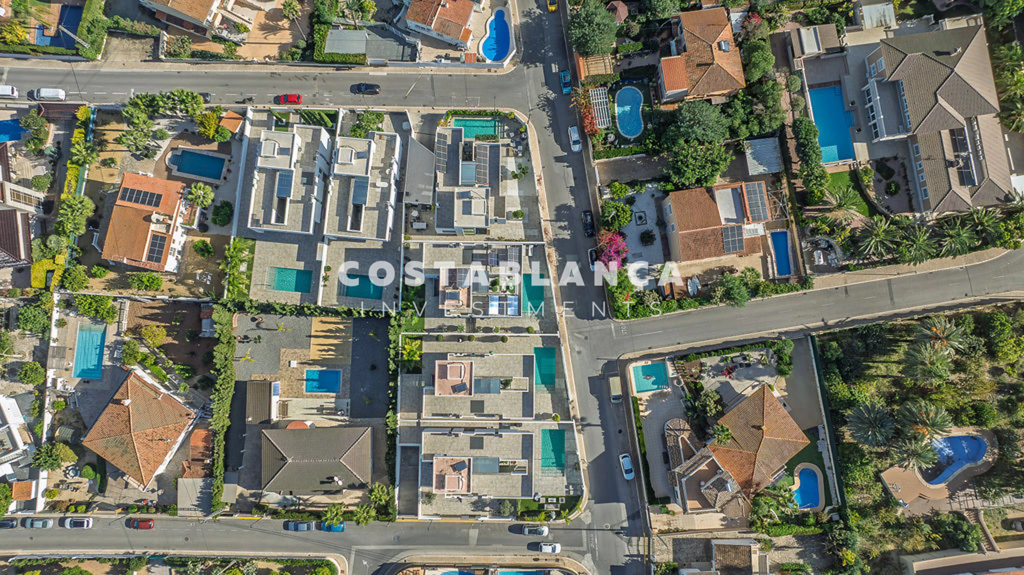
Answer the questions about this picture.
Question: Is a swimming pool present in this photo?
Yes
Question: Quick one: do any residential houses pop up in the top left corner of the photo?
Yes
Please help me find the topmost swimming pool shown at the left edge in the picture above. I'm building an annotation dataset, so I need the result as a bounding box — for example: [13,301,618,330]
[34,4,82,48]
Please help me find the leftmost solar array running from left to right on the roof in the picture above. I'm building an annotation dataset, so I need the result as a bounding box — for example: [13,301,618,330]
[120,187,162,202]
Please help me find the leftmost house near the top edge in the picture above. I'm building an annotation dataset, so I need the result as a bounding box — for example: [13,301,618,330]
[145,0,220,39]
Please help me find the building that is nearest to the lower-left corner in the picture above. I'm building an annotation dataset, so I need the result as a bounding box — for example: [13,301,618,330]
[12,477,41,501]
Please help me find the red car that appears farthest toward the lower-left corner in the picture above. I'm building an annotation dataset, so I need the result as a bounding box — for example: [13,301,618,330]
[132,517,154,530]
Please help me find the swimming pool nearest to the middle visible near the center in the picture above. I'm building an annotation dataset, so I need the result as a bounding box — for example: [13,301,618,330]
[522,273,545,319]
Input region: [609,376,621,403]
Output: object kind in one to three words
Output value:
vehicle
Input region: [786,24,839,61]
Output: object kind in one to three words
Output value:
building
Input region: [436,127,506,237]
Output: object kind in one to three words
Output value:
house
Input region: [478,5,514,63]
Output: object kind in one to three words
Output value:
swimming pool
